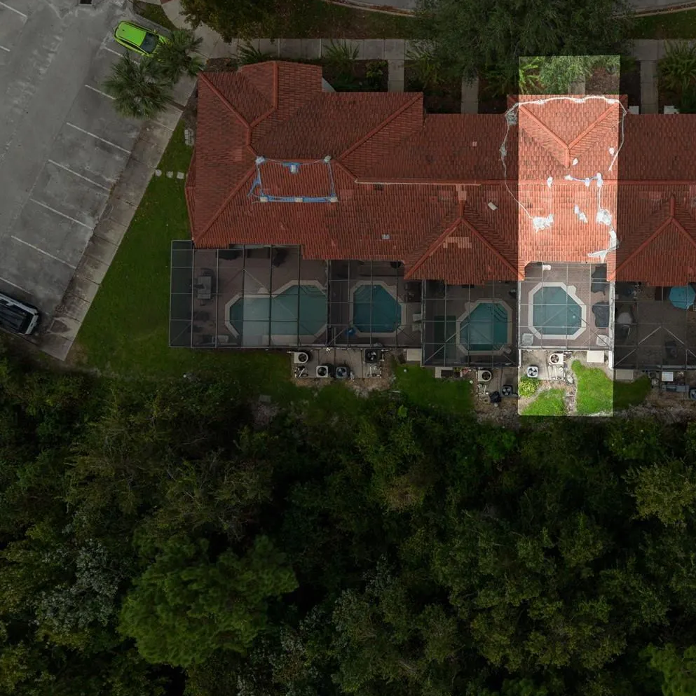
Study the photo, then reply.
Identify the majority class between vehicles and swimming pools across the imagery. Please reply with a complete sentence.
More swimming pools than vehicles appear in the image.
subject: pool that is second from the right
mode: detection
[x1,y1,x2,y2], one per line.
[456,300,513,356]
